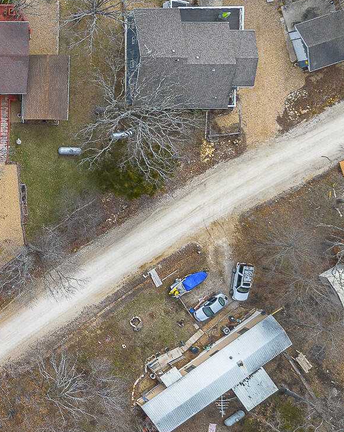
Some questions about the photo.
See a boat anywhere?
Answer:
Yes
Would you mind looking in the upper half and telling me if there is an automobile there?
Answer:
No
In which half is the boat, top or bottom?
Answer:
bottom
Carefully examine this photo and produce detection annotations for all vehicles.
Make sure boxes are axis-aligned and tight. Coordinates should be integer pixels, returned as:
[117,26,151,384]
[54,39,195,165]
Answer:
[229,262,255,302]
[191,291,230,323]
